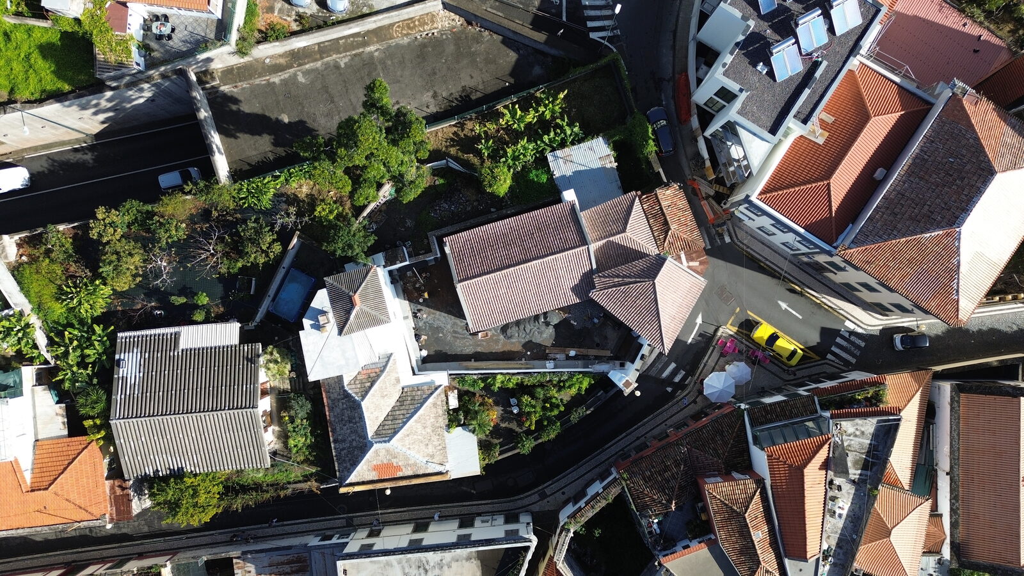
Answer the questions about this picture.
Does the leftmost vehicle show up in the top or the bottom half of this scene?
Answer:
top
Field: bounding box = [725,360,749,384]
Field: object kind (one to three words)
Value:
umbrella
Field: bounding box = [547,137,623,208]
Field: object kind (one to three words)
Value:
shed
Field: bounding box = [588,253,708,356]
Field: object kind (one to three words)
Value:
house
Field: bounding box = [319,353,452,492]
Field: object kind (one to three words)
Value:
house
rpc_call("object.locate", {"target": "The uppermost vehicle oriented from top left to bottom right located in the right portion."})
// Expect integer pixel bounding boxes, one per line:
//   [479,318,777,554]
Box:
[750,324,804,366]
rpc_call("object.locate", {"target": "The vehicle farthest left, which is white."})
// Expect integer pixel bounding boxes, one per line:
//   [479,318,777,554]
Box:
[0,166,32,190]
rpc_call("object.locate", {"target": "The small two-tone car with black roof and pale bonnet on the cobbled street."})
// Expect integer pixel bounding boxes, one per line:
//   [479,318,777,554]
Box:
[893,331,930,353]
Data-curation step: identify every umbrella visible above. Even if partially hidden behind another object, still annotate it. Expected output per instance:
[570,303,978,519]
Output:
[702,370,733,401]
[725,360,749,384]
